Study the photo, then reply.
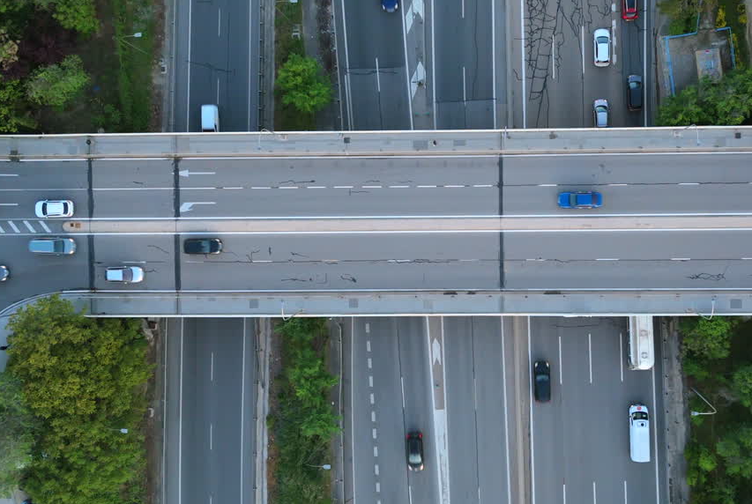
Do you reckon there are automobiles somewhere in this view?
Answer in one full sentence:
Yes, the picture does show an automobile.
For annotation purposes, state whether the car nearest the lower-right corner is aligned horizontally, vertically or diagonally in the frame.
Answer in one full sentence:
I'd say the car nearest the lower-right corner is aligned vertically in the picture.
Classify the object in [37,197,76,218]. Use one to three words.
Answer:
car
